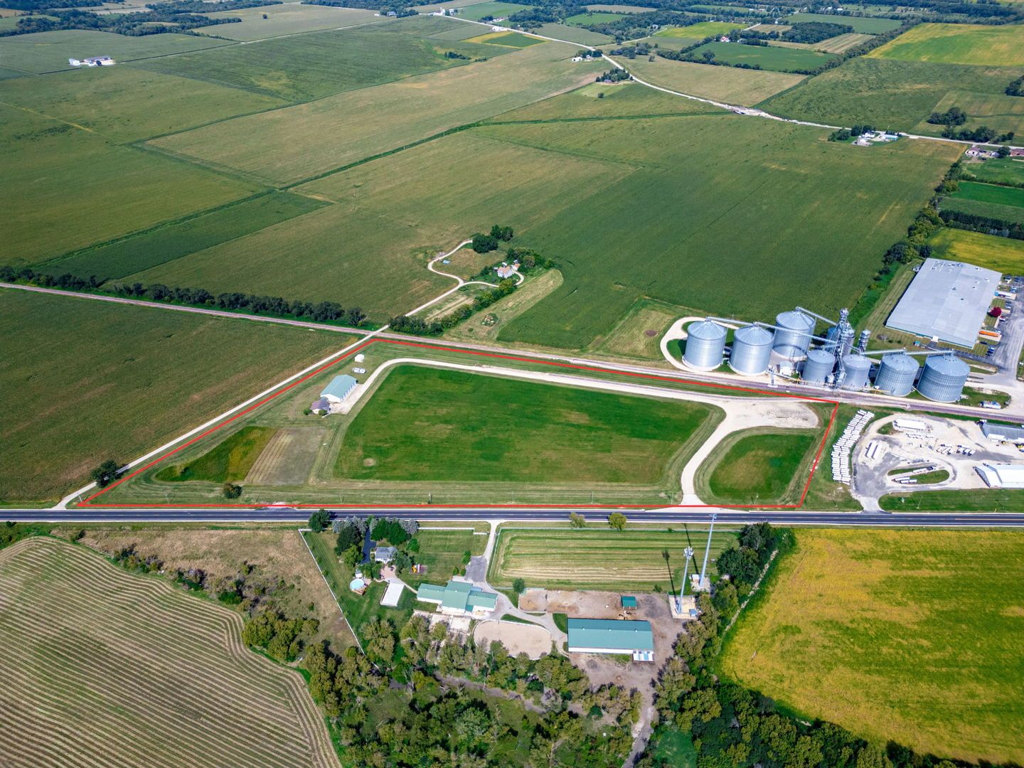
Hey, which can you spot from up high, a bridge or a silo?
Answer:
silo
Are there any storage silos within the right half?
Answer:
Yes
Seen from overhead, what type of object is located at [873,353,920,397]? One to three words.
silo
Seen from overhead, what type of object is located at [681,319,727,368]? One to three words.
silo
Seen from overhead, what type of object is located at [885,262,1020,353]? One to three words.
building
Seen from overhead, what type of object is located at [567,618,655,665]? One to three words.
barn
